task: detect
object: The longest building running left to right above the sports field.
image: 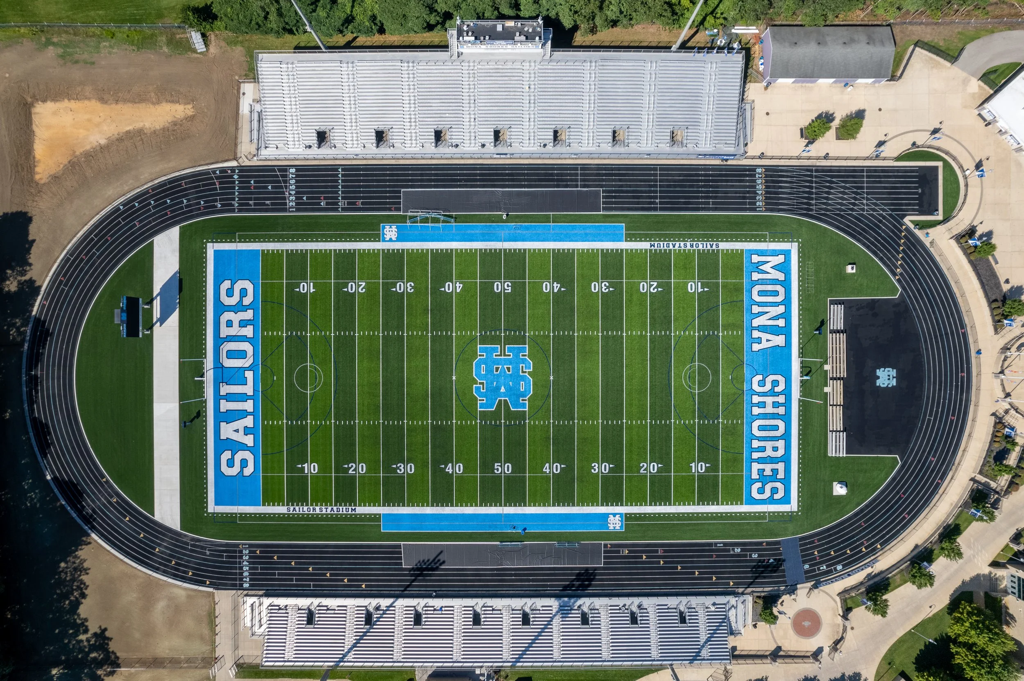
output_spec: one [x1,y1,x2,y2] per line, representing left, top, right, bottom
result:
[762,25,897,83]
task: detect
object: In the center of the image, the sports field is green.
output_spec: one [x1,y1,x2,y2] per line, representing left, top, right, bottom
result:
[75,214,926,542]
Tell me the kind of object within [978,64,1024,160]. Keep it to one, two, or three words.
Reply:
building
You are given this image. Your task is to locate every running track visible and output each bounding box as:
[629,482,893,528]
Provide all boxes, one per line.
[27,165,973,590]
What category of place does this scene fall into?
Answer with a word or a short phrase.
sports ground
